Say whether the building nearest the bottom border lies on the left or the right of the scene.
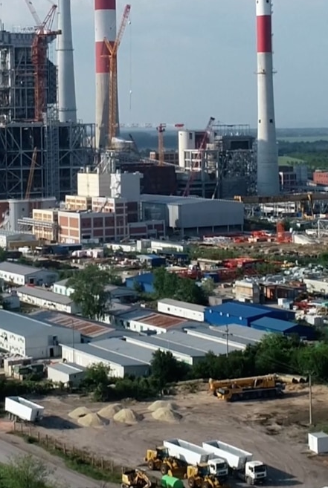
right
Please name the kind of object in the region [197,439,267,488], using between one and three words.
truck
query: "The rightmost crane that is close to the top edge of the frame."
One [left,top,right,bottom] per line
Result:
[102,4,132,170]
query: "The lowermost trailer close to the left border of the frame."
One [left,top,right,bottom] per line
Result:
[6,392,42,423]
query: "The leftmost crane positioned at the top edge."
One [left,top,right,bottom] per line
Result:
[0,0,62,121]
